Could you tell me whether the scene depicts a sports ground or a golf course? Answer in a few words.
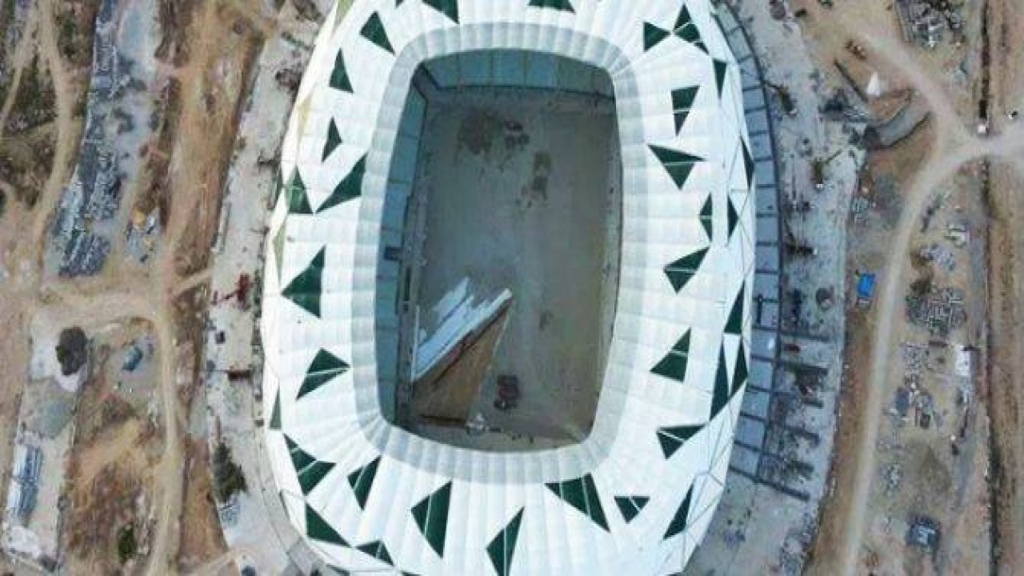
sports ground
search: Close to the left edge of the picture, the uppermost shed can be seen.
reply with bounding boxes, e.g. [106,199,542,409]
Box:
[6,444,39,486]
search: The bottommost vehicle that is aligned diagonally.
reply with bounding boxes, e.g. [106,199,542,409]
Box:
[797,381,819,399]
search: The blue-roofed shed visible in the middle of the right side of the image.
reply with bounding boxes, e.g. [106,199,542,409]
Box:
[857,272,879,296]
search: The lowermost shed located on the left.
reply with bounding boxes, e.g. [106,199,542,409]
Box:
[0,483,29,526]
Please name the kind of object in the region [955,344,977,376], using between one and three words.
shed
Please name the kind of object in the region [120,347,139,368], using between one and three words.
vehicle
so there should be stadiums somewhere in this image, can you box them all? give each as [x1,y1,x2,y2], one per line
[261,0,756,576]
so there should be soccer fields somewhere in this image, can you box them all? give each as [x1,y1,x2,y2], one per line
[386,88,622,453]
